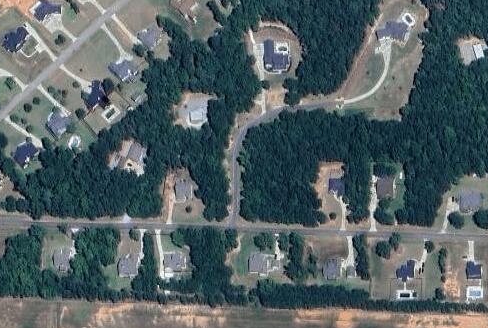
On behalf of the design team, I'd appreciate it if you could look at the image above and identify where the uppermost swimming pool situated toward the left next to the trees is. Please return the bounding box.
[103,105,121,122]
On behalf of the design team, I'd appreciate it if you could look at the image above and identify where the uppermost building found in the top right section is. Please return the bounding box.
[377,19,408,42]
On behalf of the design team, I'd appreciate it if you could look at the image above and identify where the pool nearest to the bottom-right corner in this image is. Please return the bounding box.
[468,286,482,299]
